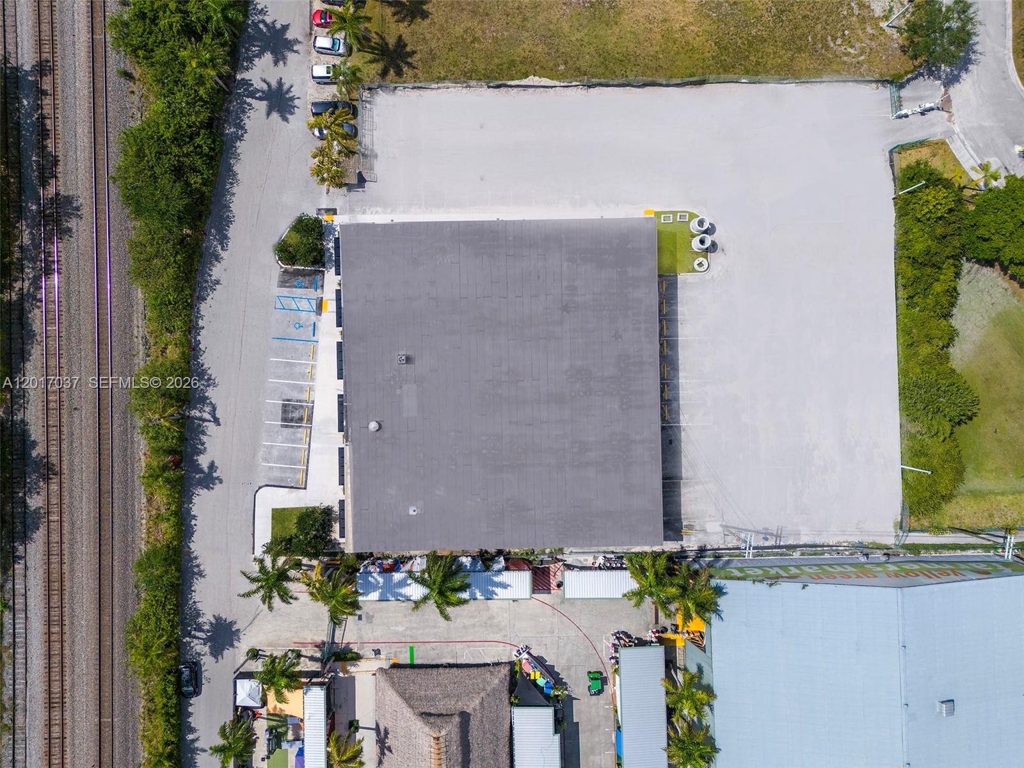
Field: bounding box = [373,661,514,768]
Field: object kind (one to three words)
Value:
building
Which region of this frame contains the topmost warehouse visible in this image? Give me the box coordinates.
[334,215,664,552]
